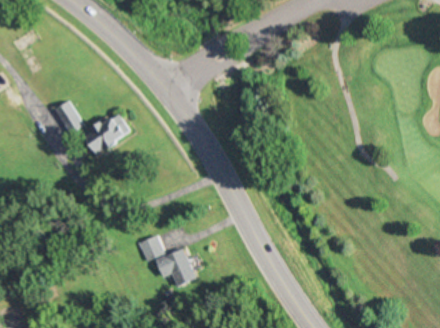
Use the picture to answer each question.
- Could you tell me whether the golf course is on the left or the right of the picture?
right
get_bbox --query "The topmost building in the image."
[54,100,82,131]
